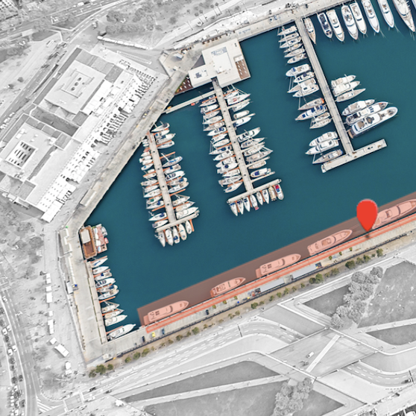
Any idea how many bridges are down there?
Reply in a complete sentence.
In total, there is 1 bridge in the scene.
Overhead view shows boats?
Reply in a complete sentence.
Yes, a boat is visible in the scene.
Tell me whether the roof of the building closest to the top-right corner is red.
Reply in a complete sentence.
No, the roof of the building closest to the top-right corner is actually white.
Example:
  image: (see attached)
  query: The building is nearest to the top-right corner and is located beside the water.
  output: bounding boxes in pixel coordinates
[189,38,251,91]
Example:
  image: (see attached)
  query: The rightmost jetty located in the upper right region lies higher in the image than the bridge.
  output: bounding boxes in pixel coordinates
[295,20,387,172]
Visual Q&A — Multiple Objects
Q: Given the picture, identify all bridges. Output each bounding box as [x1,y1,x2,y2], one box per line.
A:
[271,328,378,379]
